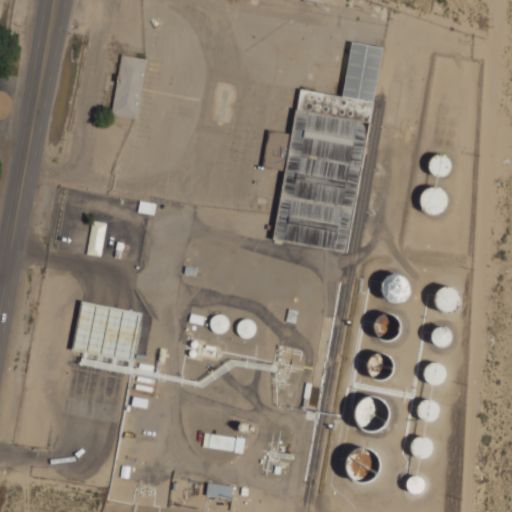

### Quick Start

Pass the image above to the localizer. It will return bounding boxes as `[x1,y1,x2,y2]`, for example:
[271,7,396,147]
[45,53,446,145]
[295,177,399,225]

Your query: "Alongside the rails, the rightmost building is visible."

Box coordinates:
[343,42,384,99]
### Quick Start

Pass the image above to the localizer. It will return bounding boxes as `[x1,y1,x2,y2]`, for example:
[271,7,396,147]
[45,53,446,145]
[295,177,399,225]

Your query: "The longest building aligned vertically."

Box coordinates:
[274,89,374,253]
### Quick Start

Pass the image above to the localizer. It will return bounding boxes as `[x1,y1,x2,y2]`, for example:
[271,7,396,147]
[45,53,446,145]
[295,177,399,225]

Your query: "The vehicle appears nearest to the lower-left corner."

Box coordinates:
[50,449,86,465]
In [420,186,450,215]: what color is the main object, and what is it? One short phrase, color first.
white storage tank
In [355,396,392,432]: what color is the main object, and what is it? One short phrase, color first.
white storage tank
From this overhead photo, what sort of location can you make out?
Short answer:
industrial area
